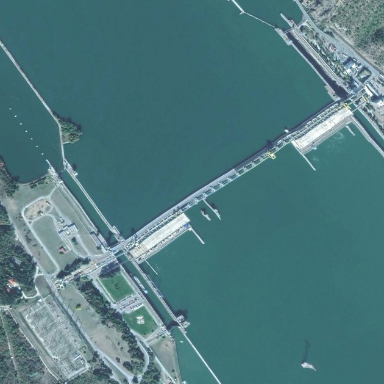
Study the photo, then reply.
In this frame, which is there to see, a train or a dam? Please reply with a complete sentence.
The image shows a dam.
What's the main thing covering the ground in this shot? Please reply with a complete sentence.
The bulk of the photo consists of water.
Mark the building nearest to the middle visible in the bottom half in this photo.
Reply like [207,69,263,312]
[129,214,194,264]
